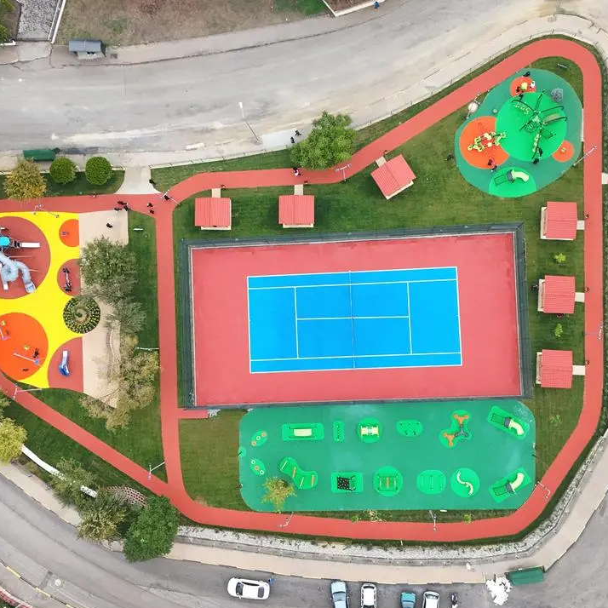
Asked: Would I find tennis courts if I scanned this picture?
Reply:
Yes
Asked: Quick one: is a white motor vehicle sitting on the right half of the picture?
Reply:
Yes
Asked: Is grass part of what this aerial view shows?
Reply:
Yes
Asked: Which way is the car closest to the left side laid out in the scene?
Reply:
horizontally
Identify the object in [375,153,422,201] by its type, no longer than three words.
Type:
gazebo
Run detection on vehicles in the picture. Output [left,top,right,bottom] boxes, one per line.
[361,582,377,608]
[423,590,440,608]
[228,577,272,599]
[399,589,418,608]
[332,579,351,608]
